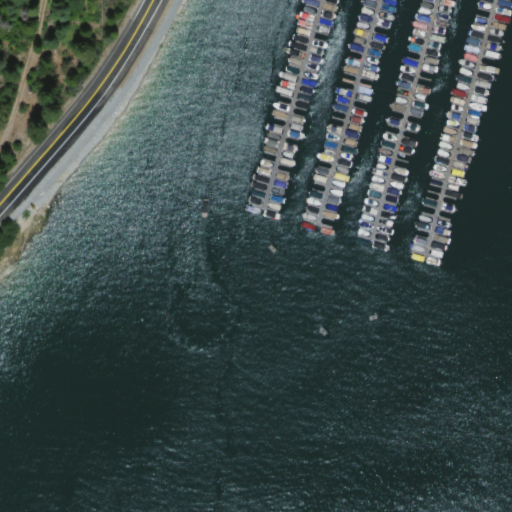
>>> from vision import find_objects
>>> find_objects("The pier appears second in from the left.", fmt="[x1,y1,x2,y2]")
[304,0,394,231]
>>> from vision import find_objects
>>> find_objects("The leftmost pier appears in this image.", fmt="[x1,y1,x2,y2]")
[250,0,338,214]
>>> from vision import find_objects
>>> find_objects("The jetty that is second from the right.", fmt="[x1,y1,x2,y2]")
[358,0,454,246]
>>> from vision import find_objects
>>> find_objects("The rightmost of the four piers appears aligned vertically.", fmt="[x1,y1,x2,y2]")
[414,0,510,264]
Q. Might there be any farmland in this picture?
No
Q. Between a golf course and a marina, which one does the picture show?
marina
